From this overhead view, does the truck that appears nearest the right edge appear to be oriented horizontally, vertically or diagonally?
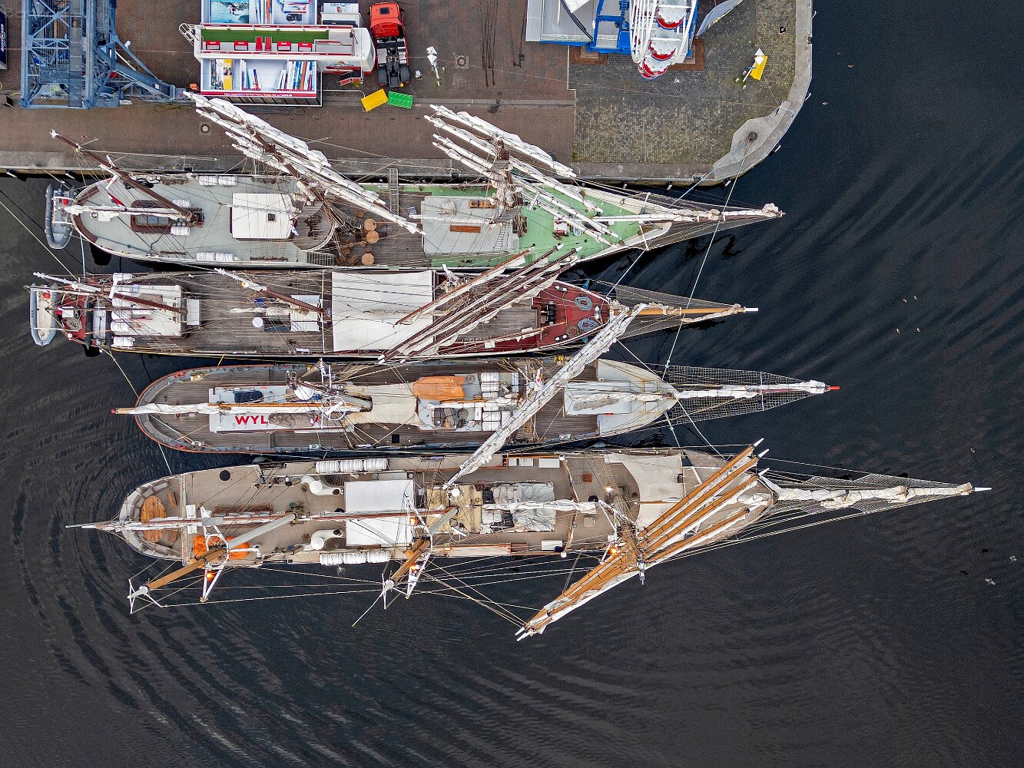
vertically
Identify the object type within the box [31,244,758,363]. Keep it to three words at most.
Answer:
ship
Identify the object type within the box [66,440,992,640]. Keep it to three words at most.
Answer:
ship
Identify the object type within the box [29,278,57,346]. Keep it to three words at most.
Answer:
boat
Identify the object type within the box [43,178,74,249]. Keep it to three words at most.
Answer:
boat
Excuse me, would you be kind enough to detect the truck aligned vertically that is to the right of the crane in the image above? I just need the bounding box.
[367,3,410,88]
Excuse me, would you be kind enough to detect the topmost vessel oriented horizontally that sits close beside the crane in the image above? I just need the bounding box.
[51,90,784,272]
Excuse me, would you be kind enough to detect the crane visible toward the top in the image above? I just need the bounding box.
[16,0,191,114]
